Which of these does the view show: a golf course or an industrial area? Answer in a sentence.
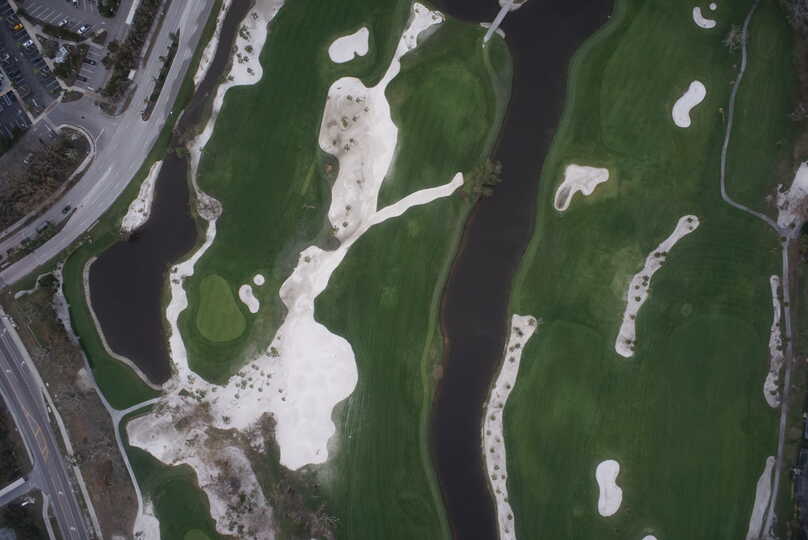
The area seen from above is a golf course.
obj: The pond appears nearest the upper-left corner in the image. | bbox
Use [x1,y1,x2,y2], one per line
[88,152,199,387]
